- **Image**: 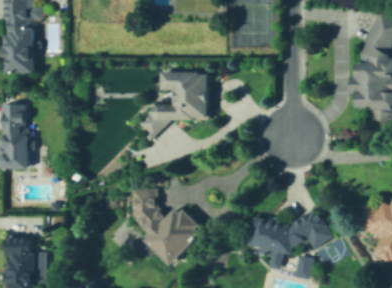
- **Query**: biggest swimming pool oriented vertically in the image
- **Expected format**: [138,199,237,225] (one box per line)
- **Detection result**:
[47,17,60,54]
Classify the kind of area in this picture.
residential area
